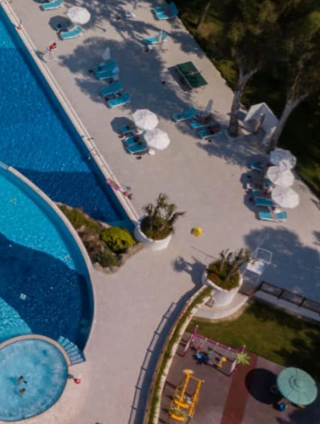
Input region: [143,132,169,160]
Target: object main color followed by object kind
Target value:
white umbrella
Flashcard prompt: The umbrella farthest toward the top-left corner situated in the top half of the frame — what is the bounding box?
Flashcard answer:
[66,9,90,28]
